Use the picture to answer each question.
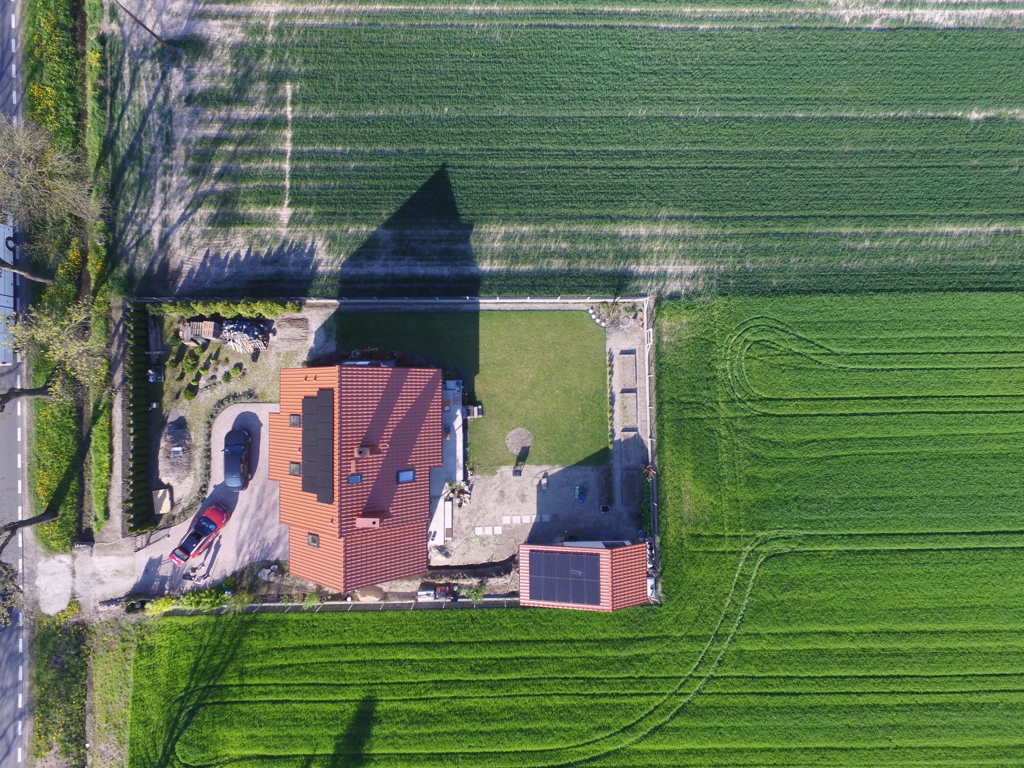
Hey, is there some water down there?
No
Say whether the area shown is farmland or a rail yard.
farmland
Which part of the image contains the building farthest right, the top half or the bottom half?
bottom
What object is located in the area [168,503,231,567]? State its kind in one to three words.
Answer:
car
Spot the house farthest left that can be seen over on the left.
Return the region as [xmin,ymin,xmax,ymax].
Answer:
[267,365,445,595]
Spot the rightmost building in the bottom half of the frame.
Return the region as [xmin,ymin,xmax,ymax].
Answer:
[518,538,649,613]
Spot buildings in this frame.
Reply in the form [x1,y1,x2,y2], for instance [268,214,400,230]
[518,538,649,613]
[267,365,445,595]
